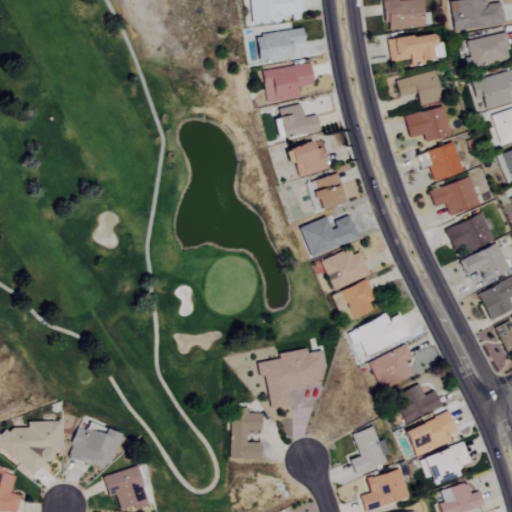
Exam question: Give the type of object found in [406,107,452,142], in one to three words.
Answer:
house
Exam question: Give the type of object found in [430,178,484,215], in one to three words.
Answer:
house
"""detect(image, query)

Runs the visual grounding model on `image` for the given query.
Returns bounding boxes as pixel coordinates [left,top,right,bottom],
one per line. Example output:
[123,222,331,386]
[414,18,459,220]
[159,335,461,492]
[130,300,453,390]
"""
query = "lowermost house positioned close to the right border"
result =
[442,482,486,512]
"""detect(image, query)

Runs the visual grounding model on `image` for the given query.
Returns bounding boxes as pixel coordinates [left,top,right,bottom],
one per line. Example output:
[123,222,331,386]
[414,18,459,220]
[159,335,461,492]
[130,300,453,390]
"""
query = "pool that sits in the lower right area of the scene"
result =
[399,437,414,458]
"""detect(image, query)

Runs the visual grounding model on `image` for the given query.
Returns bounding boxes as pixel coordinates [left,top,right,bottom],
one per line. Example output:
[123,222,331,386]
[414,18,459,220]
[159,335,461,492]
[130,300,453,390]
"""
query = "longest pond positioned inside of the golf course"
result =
[176,121,287,309]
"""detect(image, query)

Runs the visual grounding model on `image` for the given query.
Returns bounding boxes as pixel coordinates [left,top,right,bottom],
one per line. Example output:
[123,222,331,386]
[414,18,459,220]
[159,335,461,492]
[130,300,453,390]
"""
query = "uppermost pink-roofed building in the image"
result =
[262,63,314,102]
